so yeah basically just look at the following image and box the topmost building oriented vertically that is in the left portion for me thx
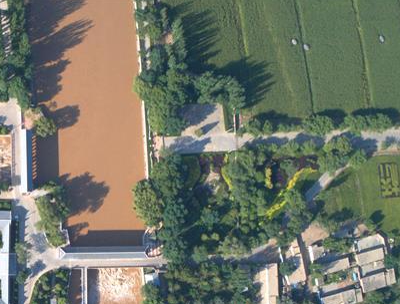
[20,128,33,191]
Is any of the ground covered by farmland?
Yes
